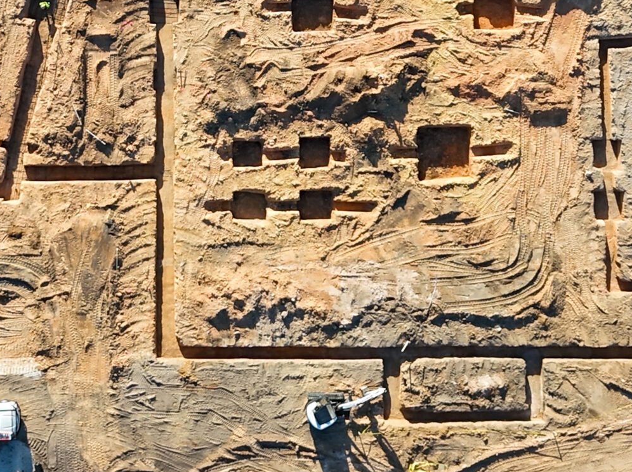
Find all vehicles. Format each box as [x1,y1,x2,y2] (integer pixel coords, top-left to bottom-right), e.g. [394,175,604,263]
[0,399,19,445]
[307,384,388,429]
